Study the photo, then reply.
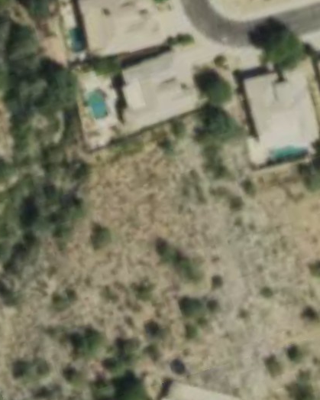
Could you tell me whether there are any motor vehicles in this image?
No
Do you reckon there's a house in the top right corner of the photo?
Yes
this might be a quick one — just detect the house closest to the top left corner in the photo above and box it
[80,0,171,57]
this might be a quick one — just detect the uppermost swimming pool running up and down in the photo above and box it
[69,21,85,55]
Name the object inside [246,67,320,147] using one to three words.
house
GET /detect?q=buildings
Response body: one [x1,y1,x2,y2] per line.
[80,0,171,57]
[246,67,320,147]
[117,54,205,129]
